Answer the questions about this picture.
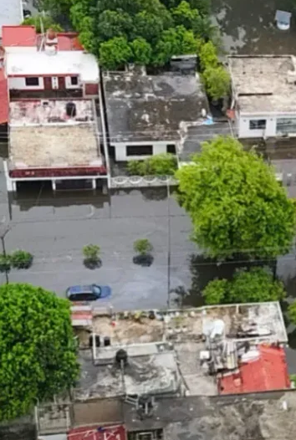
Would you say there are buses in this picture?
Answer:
No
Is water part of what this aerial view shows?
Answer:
Yes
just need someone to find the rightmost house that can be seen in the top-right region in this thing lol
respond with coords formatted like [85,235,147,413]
[227,53,296,140]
